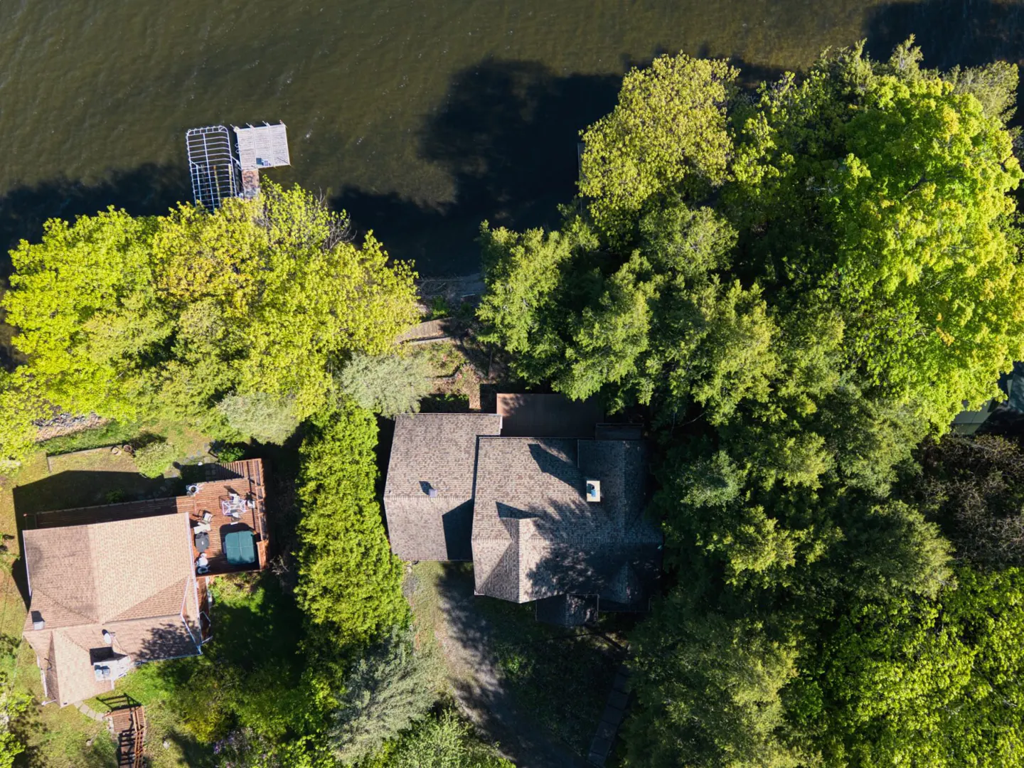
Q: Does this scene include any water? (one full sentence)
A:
Yes, there's water in this view.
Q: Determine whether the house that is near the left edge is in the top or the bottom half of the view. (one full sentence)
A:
The house that is near the left edge is in the bottom half of the image.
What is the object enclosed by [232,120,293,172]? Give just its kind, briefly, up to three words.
pier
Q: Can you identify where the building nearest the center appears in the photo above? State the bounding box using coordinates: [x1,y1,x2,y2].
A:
[387,393,663,631]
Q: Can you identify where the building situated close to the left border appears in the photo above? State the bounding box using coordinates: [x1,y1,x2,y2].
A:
[20,459,274,710]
